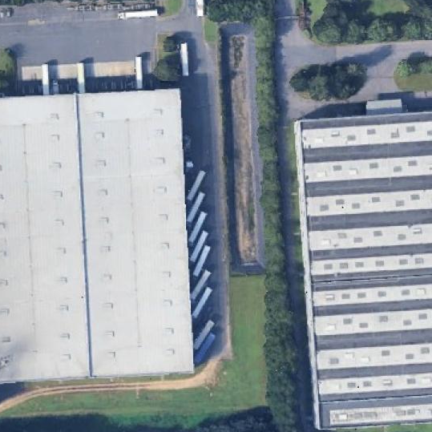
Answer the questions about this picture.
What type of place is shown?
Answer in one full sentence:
The area seen from above is an industrial area.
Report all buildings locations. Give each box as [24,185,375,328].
[291,99,432,429]
[0,88,194,384]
